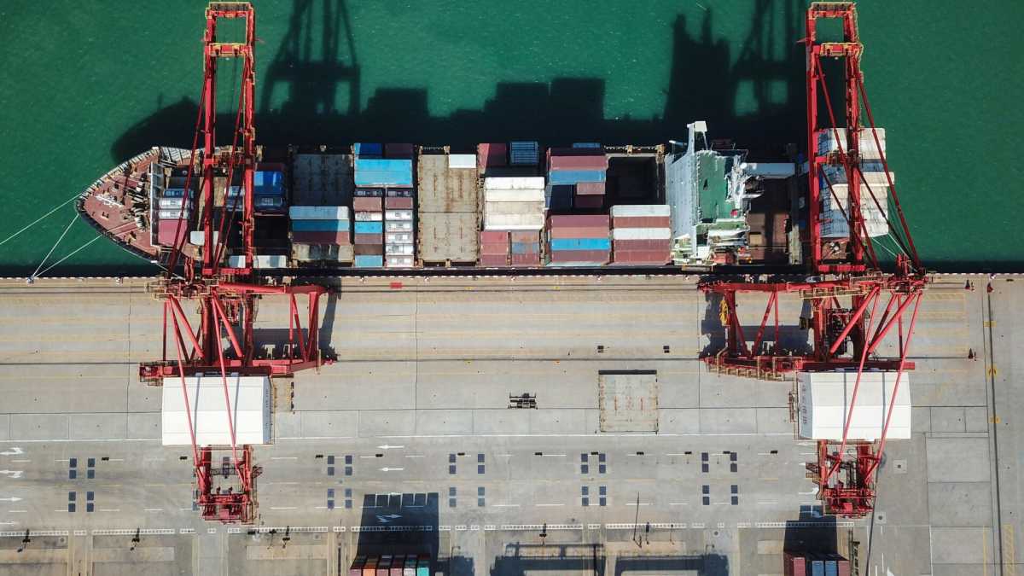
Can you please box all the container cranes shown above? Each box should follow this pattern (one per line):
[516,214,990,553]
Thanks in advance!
[692,5,940,517]
[138,1,351,525]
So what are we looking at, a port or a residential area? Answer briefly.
port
